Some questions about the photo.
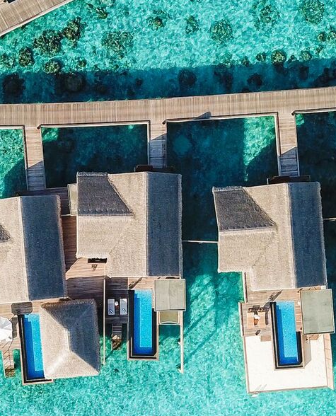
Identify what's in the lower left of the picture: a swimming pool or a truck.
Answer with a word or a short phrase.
swimming pool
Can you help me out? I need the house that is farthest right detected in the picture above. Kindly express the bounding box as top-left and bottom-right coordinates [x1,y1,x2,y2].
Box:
[212,175,325,292]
